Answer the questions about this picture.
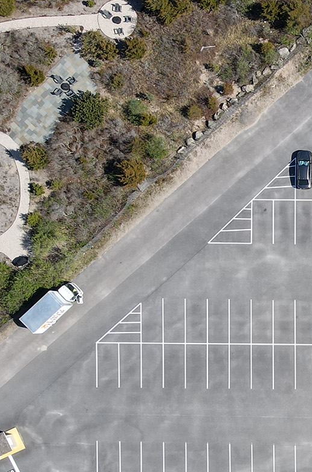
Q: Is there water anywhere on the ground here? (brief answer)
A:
No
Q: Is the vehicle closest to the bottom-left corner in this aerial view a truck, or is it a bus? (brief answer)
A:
truck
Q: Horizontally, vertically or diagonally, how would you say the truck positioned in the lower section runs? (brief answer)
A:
diagonally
